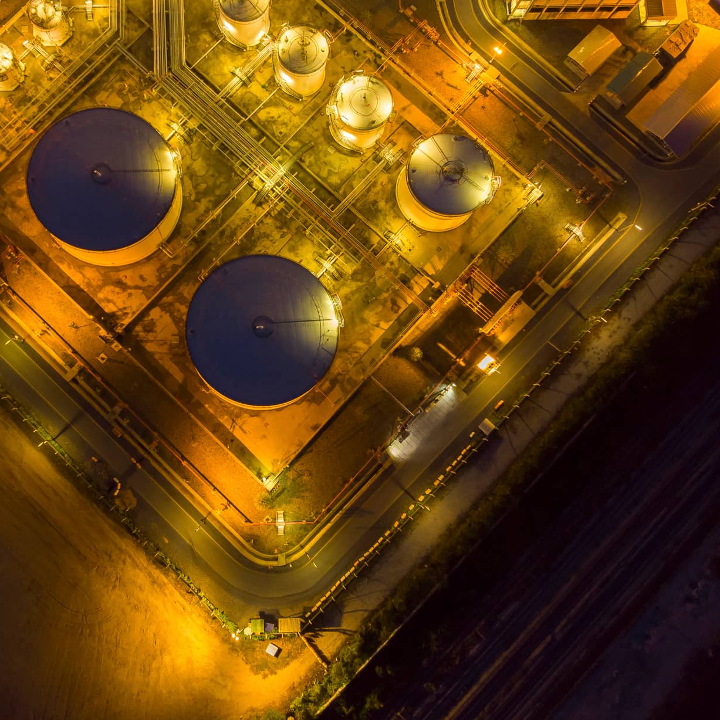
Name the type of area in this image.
industrial area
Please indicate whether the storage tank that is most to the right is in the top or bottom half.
top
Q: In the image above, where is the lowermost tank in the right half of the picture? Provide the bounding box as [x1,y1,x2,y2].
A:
[394,132,503,236]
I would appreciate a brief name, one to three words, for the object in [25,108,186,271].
storage tank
